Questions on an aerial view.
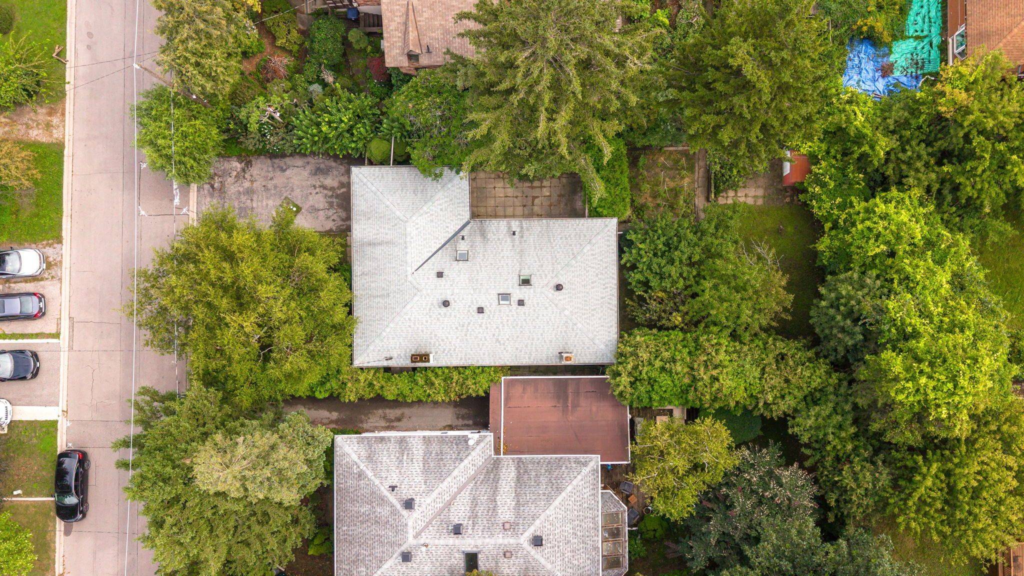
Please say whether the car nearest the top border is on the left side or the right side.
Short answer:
left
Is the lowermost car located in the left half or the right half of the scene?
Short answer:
left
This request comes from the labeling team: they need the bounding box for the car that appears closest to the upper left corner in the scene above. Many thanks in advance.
[0,246,46,280]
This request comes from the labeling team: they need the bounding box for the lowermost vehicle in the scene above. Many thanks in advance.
[50,448,90,522]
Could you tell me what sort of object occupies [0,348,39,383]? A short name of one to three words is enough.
car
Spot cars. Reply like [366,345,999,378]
[0,246,46,280]
[0,398,12,431]
[0,291,46,321]
[50,448,90,522]
[0,348,39,383]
